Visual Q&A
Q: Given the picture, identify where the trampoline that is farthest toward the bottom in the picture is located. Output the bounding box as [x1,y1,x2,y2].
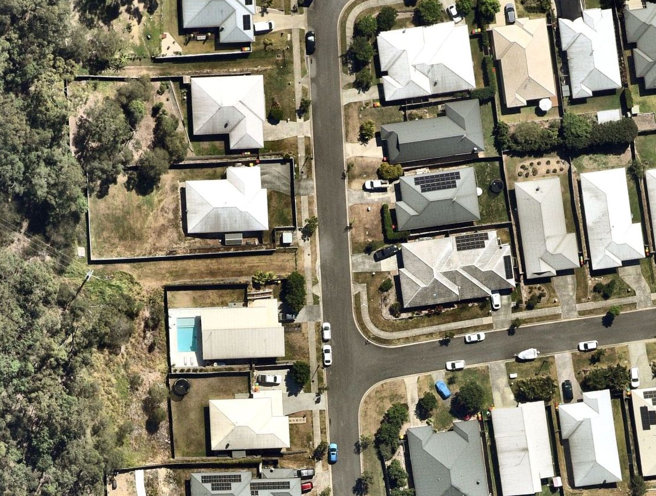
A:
[173,379,189,395]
